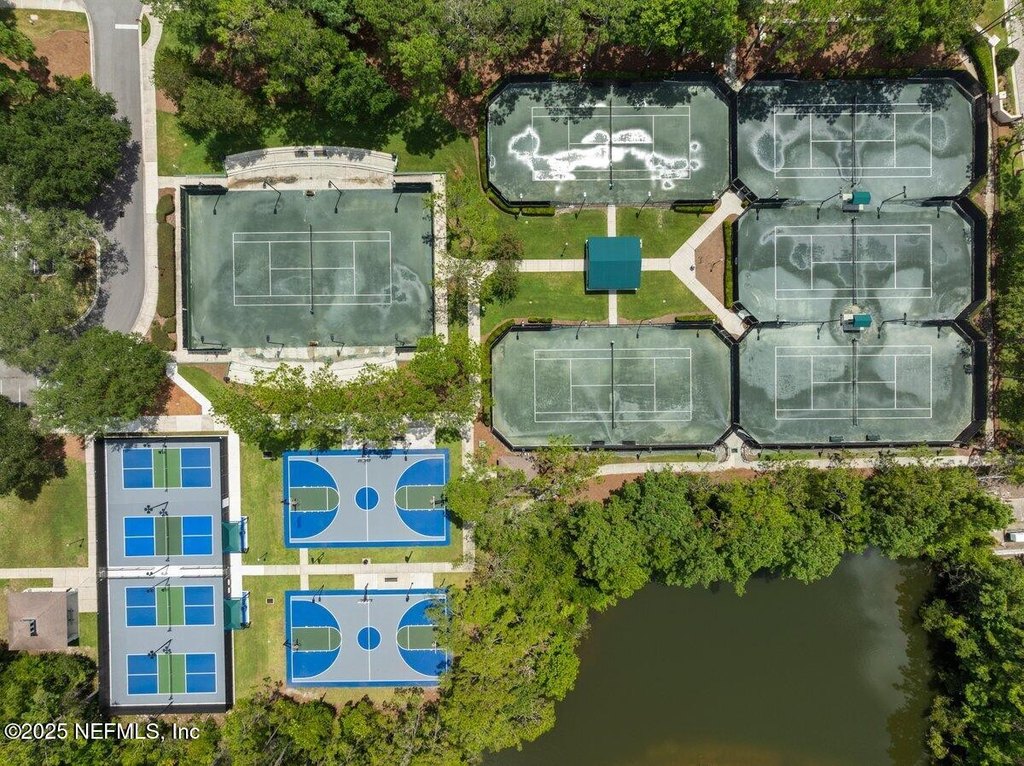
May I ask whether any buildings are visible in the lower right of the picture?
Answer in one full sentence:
No, no building appears in the lower right of the picture.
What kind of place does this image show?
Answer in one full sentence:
The picture captures a sports ground.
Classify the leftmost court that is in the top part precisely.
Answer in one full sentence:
From above, the leftmost court that is in the top part can be identified as a tennis court.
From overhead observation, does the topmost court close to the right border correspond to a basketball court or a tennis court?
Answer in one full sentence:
I'd identify the topmost court close to the right border as a tennis court.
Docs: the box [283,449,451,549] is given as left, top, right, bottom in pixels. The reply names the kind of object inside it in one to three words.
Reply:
basketball court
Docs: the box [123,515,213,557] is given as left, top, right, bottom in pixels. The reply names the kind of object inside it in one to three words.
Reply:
sports court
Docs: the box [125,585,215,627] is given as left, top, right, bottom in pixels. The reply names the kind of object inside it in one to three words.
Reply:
sports court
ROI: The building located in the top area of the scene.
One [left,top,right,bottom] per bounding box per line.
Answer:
[583,236,642,293]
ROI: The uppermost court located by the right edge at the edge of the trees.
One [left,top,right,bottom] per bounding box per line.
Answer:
[729,79,974,204]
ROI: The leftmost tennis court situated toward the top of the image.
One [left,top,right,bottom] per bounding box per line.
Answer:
[191,190,434,348]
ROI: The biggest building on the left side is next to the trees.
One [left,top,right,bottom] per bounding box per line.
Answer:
[9,585,80,650]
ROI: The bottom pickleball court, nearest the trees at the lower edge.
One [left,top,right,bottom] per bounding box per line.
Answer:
[126,653,216,695]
